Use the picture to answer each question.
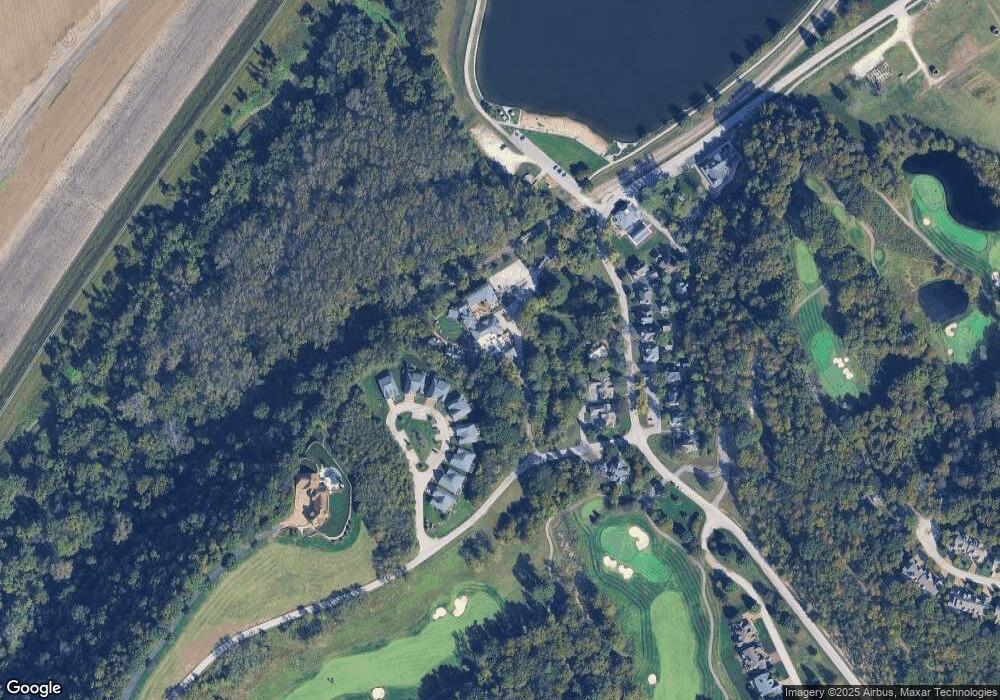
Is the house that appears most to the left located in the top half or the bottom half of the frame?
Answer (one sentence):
Seen from above, the house that appears most to the left lies in the bottom half of the view.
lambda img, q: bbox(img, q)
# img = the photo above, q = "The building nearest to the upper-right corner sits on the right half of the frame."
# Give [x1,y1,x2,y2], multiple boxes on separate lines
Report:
[702,153,734,185]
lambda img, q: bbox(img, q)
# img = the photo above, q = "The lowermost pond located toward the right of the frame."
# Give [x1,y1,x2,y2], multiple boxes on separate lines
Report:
[919,279,969,322]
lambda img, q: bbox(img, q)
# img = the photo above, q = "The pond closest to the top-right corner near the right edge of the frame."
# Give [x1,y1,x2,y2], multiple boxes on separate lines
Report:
[901,149,1000,231]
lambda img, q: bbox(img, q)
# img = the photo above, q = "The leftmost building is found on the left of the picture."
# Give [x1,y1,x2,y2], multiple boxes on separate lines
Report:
[301,470,332,527]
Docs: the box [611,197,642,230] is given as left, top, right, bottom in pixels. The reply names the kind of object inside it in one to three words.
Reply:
building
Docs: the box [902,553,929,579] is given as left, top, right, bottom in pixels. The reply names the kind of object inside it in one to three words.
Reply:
building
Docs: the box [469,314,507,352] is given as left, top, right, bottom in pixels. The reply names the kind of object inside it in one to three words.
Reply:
house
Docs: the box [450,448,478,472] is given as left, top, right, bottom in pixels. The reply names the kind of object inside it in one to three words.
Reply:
house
